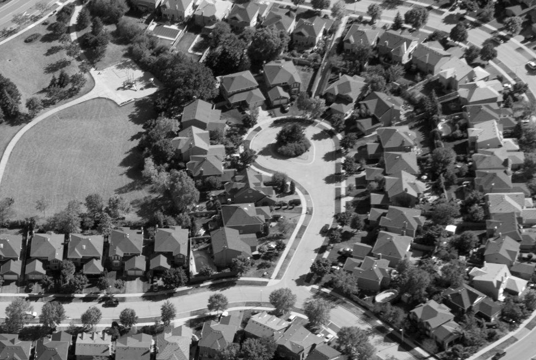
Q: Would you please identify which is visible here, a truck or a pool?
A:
pool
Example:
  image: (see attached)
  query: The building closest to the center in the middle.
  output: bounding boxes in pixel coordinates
[226,166,275,207]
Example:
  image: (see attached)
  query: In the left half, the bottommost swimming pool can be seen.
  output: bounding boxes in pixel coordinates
[192,247,216,274]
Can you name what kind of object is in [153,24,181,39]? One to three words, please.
swimming pool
